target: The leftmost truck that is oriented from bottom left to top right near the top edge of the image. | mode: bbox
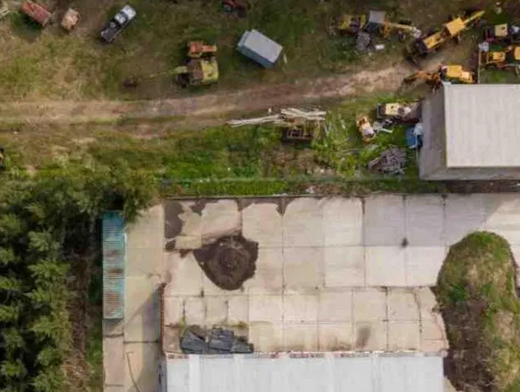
[97,0,137,43]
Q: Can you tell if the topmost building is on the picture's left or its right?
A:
right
